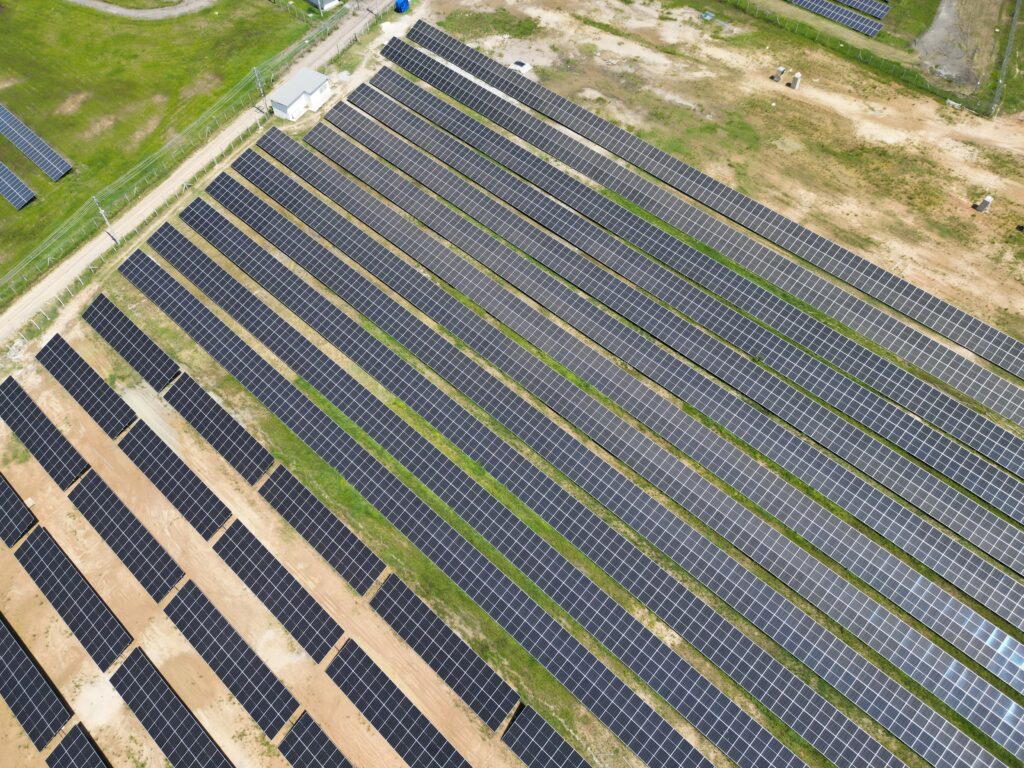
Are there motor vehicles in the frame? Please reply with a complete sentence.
No, the scene contains no motor vehicle.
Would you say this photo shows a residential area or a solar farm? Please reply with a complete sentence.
This looks like a solar farm.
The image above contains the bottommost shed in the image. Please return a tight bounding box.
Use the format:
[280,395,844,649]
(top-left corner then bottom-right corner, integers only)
[269,67,332,121]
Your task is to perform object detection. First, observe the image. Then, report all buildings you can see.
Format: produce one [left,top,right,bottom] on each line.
[269,67,332,121]
[298,0,347,21]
